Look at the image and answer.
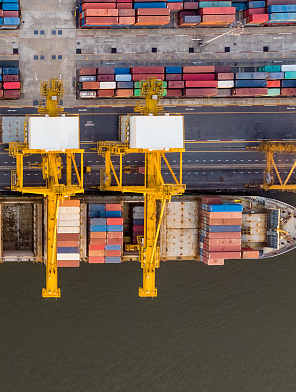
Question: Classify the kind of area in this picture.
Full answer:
It's a port.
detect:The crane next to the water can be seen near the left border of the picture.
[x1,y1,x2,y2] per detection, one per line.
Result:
[2,78,86,299]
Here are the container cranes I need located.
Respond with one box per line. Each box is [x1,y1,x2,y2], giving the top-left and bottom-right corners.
[242,140,296,196]
[2,78,86,299]
[89,78,187,299]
